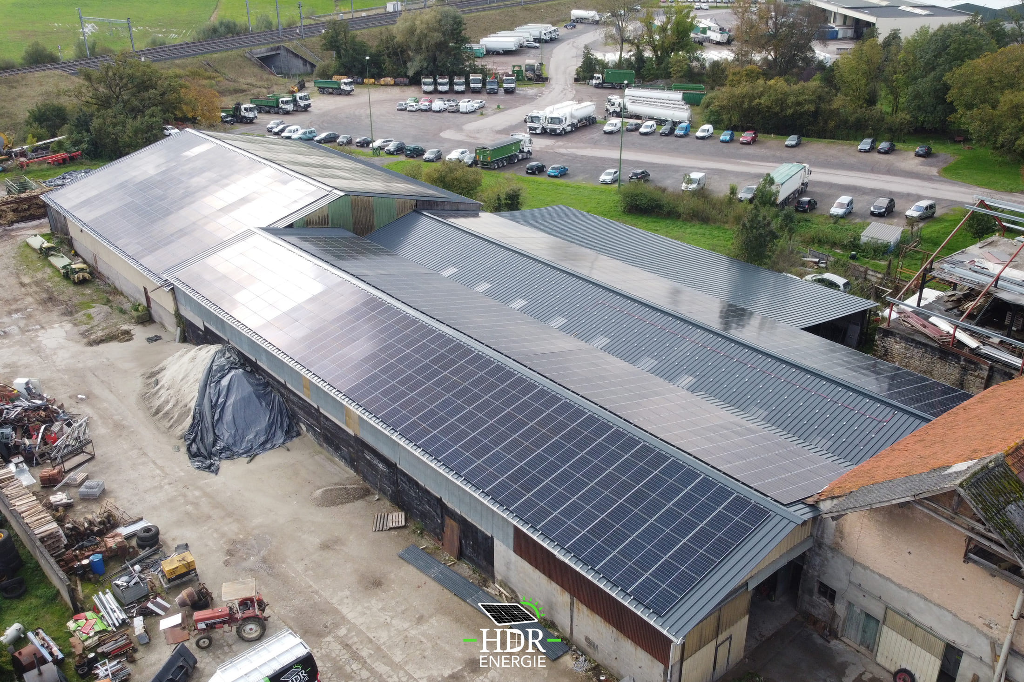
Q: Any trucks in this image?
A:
Yes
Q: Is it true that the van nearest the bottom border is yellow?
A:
No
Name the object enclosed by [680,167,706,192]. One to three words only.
vehicle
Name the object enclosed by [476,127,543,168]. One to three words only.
truck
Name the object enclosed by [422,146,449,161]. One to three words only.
car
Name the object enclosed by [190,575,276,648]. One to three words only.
work vehicle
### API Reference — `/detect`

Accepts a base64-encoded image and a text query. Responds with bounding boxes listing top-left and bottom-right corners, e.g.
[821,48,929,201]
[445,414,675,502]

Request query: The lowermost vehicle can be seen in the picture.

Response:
[201,622,318,682]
